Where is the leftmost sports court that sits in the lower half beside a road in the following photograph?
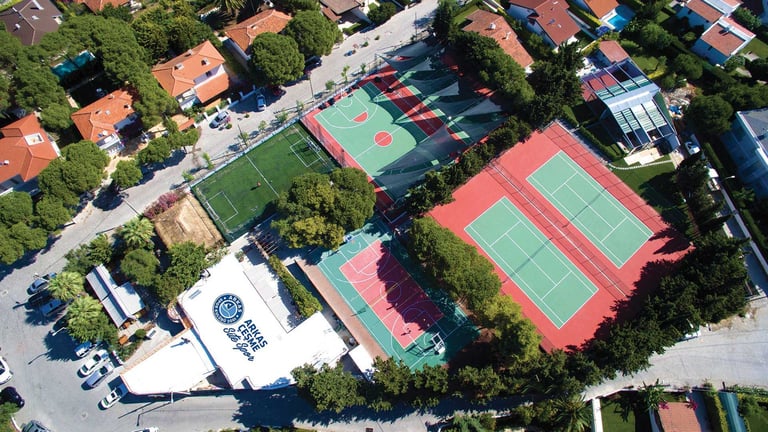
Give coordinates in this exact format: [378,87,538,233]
[307,209,478,388]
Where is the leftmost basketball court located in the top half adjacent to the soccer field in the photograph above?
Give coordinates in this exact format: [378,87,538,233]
[302,40,510,214]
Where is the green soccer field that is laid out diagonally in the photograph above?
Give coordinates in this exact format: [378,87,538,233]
[189,119,338,236]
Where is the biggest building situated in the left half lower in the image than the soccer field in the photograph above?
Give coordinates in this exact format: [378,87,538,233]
[119,253,348,396]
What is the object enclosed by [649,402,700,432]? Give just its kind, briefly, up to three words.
house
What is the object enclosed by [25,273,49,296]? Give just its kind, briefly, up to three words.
car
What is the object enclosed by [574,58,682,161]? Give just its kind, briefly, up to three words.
house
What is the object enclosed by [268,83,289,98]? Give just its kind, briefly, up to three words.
car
